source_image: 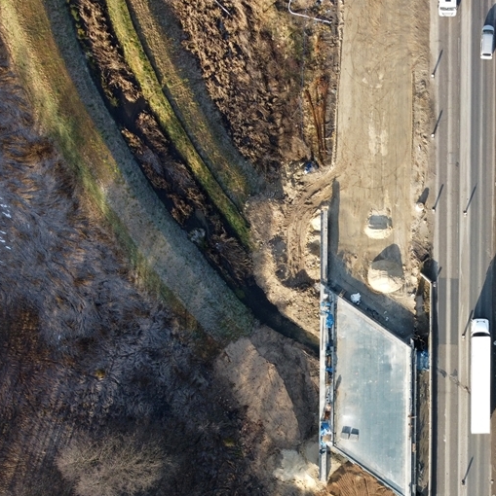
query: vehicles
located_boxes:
[436,0,458,16]
[471,317,490,441]
[480,26,495,60]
